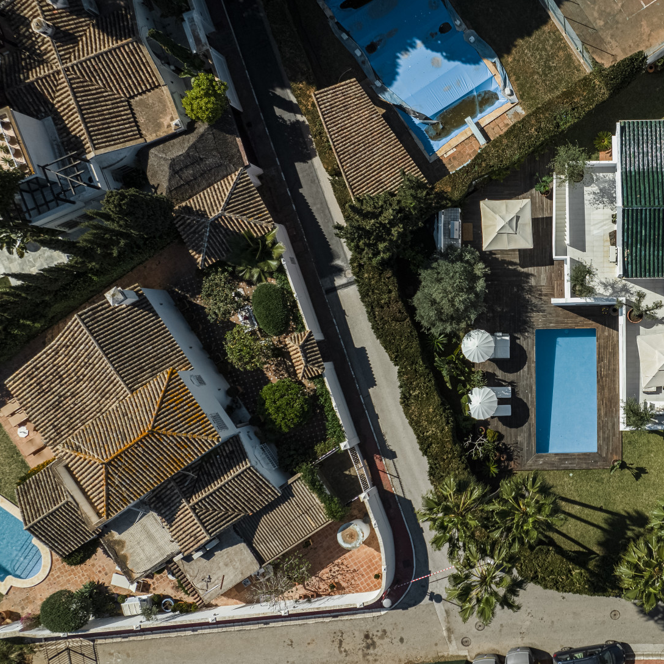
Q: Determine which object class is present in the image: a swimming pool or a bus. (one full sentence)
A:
Looking from above, you can make out a swimming pool.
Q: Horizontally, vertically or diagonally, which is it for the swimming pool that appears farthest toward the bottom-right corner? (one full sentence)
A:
The swimming pool that appears farthest toward the bottom-right corner is oriented vertically.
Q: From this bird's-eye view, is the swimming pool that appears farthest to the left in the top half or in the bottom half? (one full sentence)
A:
It is in the bottom half that the swimming pool that appears farthest to the left appears.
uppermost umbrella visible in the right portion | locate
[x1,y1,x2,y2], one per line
[481,199,533,251]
